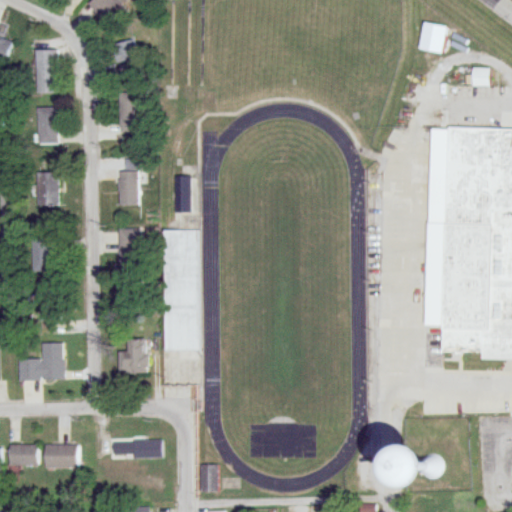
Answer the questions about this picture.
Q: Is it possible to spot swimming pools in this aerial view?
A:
No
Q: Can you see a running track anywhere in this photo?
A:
Yes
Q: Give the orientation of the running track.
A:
from top to bottom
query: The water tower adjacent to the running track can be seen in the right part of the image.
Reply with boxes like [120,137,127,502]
[380,448,447,494]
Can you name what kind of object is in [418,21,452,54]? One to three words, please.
barn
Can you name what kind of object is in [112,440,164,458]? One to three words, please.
house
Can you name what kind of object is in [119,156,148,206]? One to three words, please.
house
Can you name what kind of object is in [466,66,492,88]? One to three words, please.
shed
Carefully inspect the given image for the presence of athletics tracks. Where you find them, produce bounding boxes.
[204,104,366,492]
